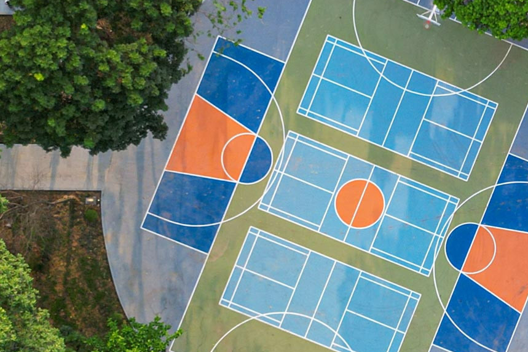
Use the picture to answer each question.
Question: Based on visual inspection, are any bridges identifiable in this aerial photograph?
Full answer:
No, I find no bridge anywhere in the image.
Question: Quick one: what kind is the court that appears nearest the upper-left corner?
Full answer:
The court that appears nearest the upper-left corner appears to be a basketball court.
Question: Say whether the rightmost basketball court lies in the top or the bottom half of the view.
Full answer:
It is in the bottom half that the rightmost basketball court appears.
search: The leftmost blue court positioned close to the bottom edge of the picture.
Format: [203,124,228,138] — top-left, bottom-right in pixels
[219,226,422,352]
